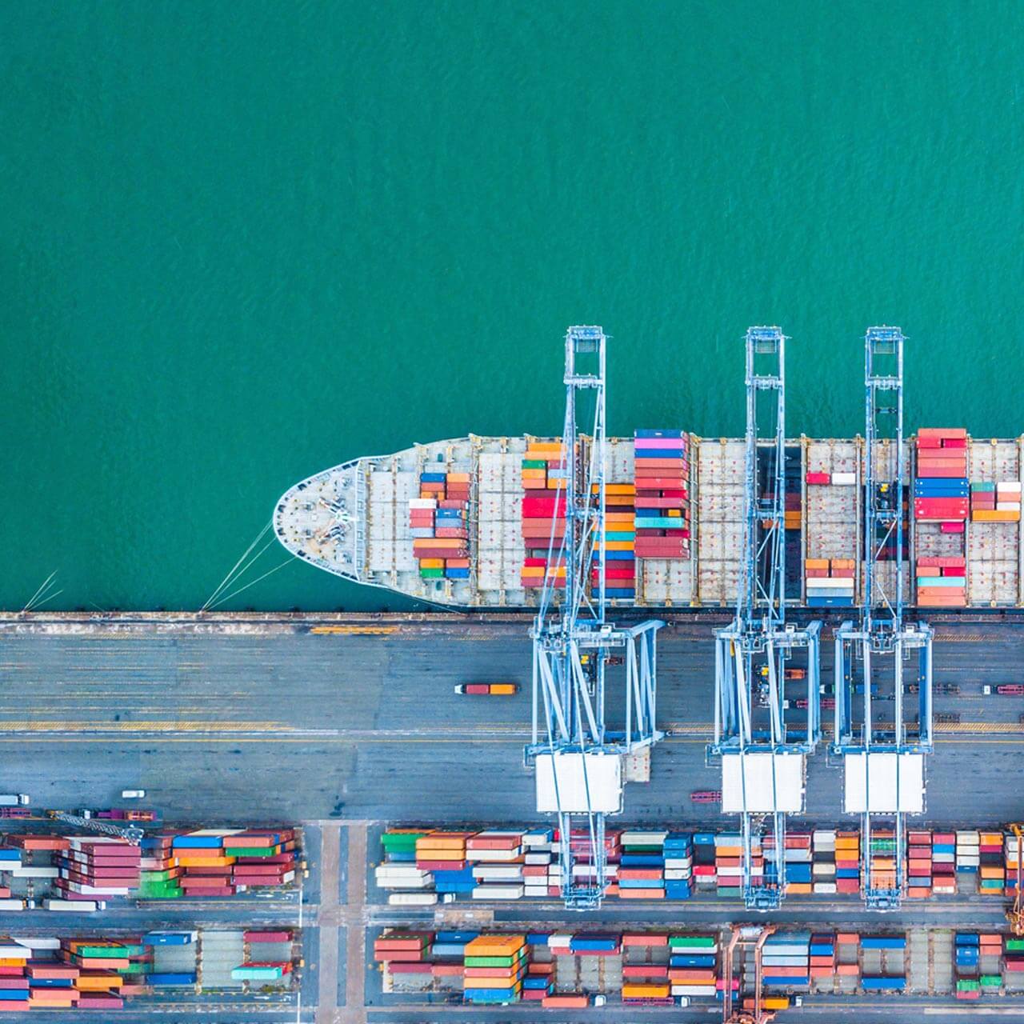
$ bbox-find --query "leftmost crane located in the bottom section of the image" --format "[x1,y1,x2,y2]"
[35,810,144,845]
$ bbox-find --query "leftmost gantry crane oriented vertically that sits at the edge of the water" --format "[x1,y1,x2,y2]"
[524,321,671,910]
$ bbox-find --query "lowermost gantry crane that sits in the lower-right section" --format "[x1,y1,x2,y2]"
[720,928,776,1024]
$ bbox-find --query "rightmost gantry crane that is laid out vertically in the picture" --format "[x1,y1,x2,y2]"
[1004,823,1024,945]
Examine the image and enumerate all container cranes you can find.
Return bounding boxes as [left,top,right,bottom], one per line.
[1004,823,1024,945]
[524,321,671,910]
[705,321,830,910]
[828,321,941,910]
[720,928,776,1024]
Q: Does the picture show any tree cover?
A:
No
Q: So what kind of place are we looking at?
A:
port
